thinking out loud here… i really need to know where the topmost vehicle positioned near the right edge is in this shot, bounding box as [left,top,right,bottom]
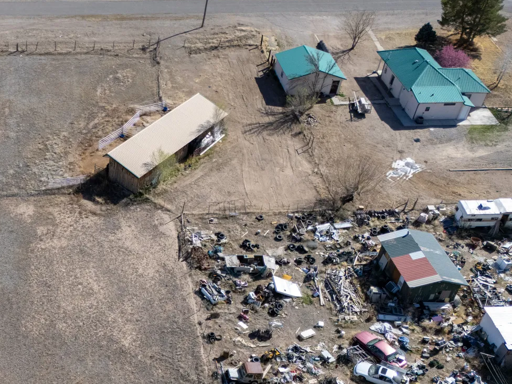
[449,198,512,235]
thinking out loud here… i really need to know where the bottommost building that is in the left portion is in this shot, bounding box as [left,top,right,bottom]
[105,98,230,193]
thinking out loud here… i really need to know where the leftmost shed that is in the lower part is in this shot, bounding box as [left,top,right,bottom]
[375,229,468,305]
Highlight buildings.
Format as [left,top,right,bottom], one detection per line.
[105,98,230,193]
[378,47,491,121]
[375,229,468,305]
[270,41,346,97]
[479,304,512,357]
